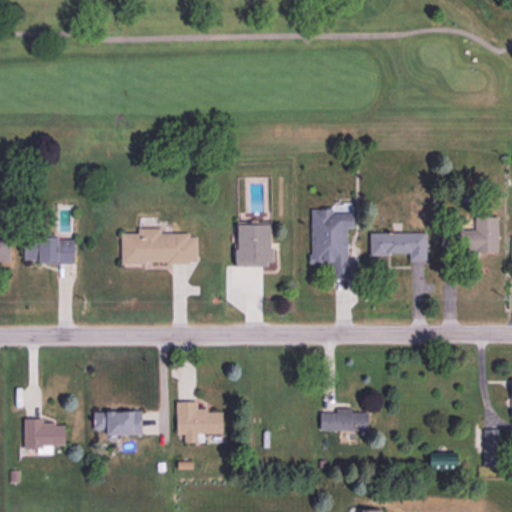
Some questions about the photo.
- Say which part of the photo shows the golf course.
top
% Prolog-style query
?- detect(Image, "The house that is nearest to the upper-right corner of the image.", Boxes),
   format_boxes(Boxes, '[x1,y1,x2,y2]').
[462,218,502,254]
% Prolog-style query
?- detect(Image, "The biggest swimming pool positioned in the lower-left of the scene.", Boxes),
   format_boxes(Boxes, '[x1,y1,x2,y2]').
[122,441,137,453]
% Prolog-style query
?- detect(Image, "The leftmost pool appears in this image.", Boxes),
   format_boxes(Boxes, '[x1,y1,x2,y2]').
[60,210,72,232]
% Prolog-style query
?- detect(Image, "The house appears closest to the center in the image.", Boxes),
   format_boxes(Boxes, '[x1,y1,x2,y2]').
[236,226,275,268]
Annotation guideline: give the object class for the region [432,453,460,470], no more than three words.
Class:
barn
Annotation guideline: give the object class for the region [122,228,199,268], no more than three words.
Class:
house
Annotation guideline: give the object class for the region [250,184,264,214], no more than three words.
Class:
swimming pool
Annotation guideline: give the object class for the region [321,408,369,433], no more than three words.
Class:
house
